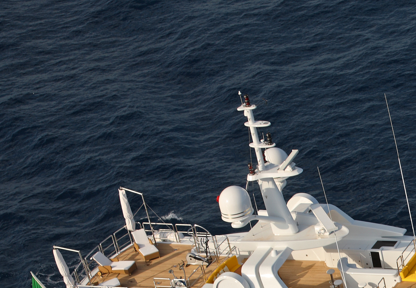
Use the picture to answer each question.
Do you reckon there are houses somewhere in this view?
No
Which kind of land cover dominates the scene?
water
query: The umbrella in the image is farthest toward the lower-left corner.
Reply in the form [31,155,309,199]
[53,246,92,288]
